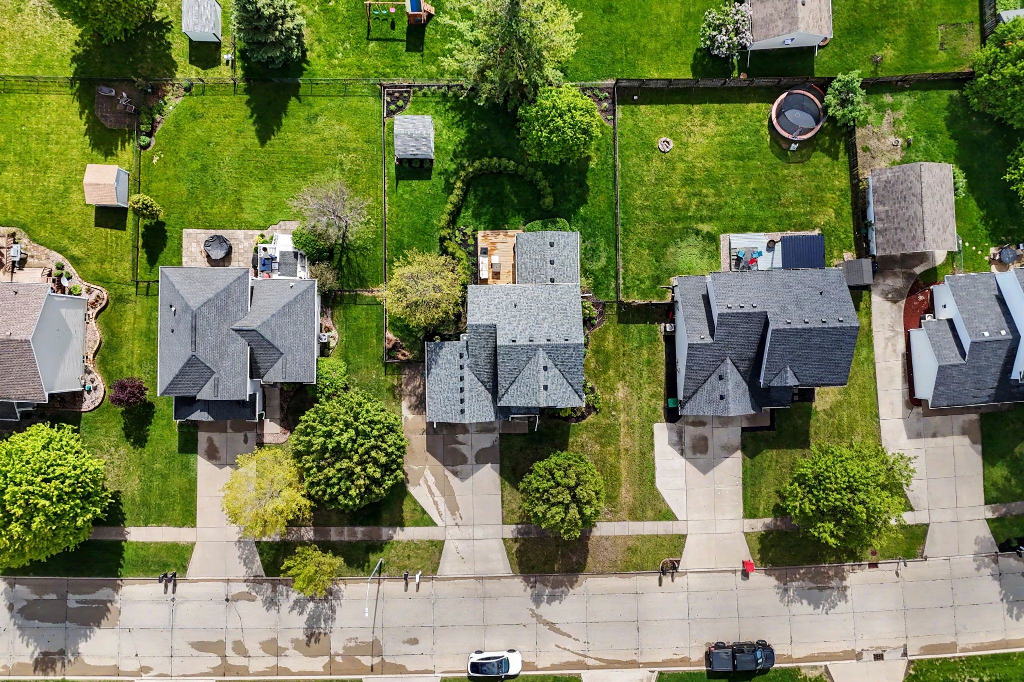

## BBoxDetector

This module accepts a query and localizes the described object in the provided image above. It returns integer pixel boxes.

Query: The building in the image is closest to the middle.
[425,230,585,428]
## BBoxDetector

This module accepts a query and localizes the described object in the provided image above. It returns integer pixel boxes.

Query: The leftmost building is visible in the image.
[0,282,84,421]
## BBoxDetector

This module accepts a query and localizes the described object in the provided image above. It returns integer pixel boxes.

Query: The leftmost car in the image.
[468,651,522,680]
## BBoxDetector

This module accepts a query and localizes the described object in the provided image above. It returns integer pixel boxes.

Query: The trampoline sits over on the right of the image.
[769,81,831,143]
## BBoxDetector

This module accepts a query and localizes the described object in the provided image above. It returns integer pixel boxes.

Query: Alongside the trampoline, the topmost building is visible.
[743,0,834,63]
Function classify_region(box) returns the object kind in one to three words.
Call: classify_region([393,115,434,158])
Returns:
shed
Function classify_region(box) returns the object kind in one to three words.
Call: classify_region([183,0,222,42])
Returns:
shed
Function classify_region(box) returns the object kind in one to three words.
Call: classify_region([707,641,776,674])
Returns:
truck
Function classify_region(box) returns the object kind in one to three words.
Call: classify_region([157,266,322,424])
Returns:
house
